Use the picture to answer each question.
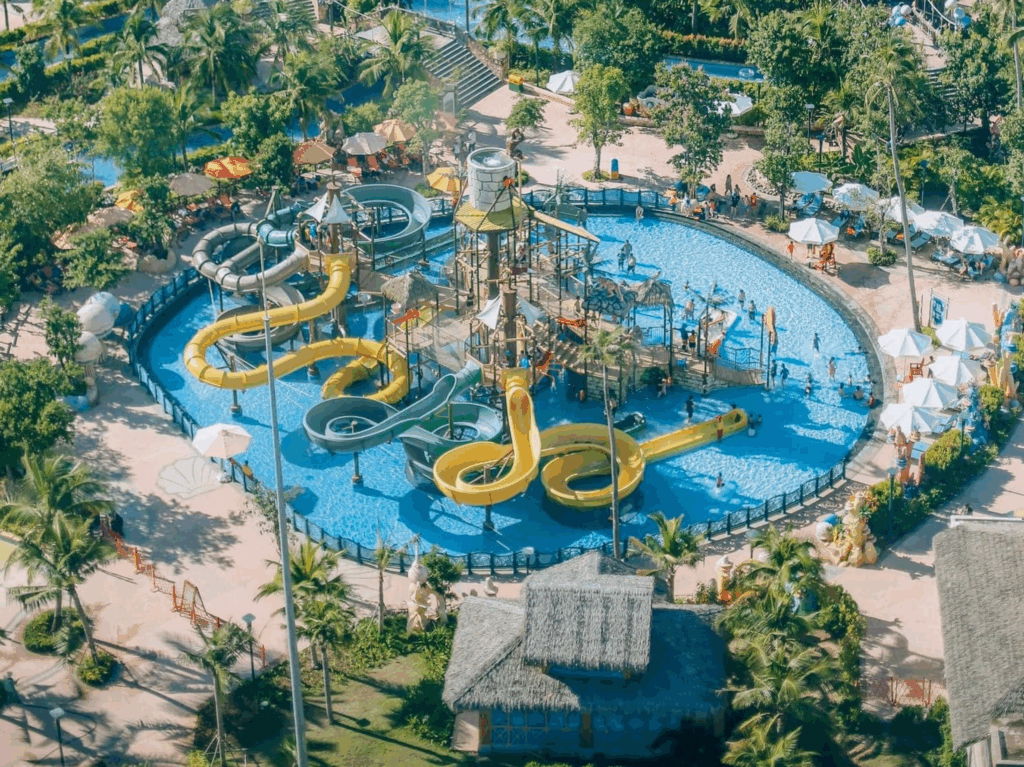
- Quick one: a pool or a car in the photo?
pool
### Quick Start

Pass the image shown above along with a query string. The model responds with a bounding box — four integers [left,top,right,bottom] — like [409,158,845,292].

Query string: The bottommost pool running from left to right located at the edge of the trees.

[132,214,870,572]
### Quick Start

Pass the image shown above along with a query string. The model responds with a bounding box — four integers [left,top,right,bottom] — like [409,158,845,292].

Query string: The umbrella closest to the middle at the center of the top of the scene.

[425,172,465,216]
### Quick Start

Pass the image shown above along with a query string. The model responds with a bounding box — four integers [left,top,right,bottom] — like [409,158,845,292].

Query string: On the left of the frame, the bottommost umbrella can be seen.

[194,429,250,460]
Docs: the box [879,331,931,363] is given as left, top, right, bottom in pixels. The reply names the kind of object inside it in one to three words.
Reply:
umbrella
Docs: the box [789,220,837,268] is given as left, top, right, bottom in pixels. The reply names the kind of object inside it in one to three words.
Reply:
umbrella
